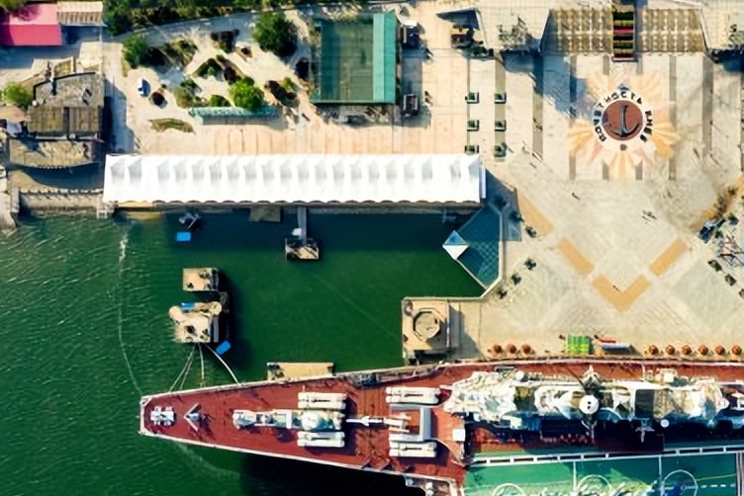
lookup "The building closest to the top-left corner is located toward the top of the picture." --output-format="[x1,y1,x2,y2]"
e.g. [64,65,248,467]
[0,4,66,47]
